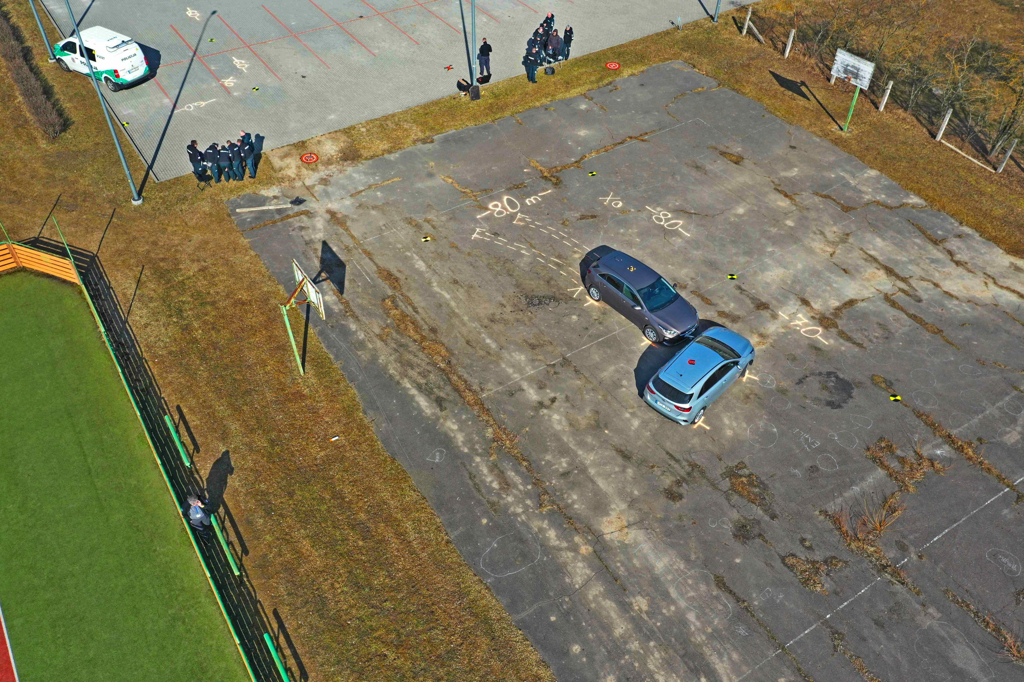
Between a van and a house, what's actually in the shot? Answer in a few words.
van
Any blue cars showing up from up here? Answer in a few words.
Yes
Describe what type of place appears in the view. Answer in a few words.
sports ground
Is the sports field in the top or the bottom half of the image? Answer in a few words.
bottom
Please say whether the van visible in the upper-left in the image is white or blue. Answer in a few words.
white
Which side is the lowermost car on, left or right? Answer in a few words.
right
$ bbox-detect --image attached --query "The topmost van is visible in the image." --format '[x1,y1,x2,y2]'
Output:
[58,28,153,91]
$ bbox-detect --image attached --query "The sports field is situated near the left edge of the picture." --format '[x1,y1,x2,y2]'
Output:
[0,267,243,682]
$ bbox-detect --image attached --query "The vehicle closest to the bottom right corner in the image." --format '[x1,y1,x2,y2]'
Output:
[642,328,754,426]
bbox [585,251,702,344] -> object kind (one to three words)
car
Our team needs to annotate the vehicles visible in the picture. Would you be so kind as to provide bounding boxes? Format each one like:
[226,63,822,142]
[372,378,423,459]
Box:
[585,251,702,344]
[642,328,754,426]
[58,28,153,91]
